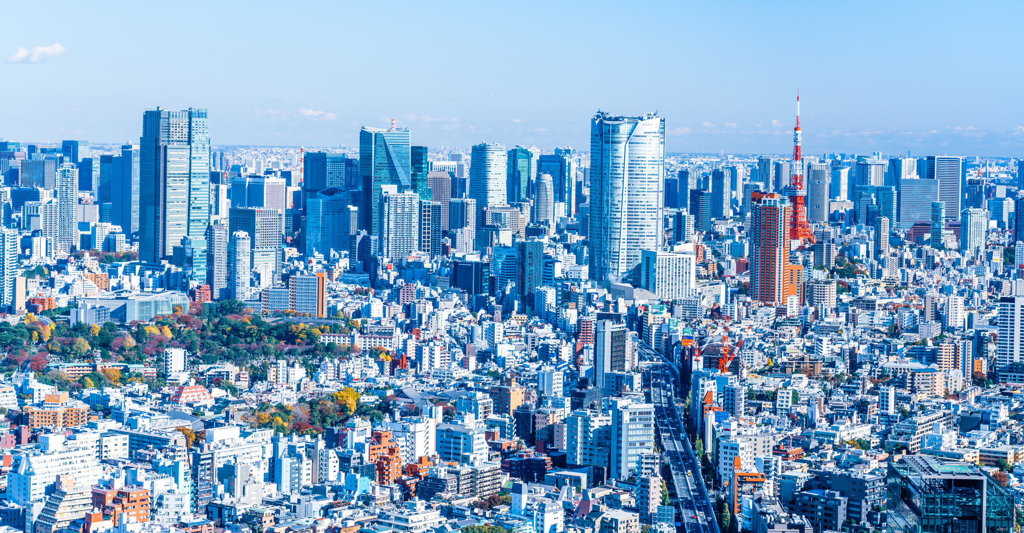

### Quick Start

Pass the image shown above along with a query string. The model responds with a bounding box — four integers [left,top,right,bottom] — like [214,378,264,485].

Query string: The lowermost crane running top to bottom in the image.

[709,315,733,373]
